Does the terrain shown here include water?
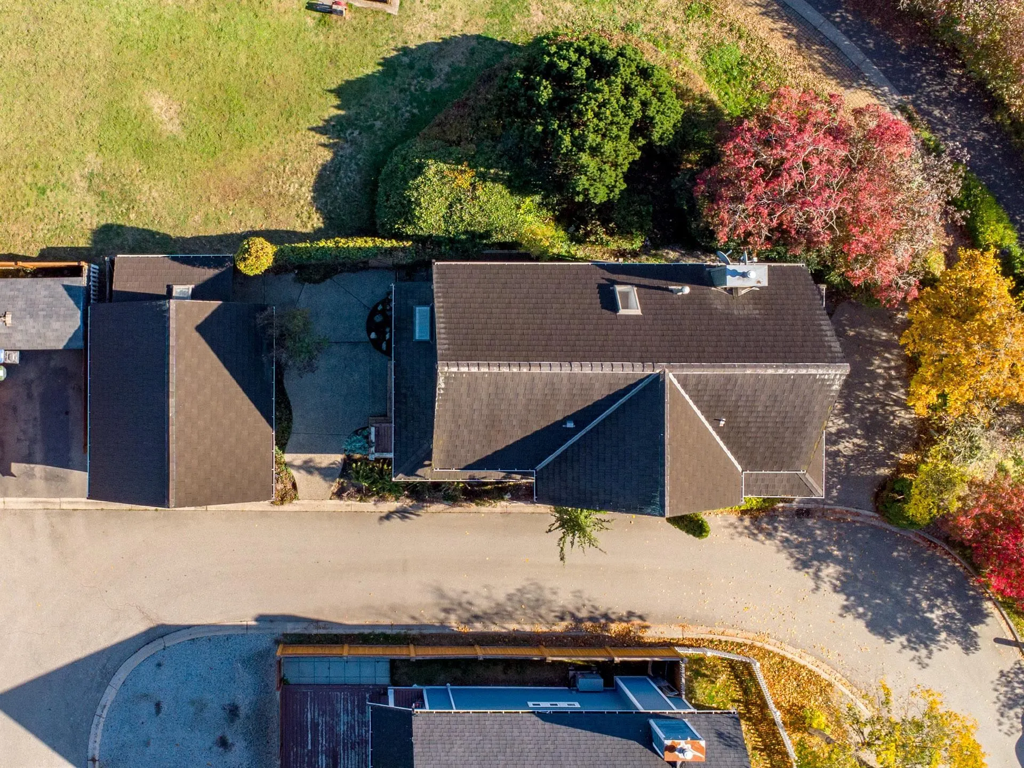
No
